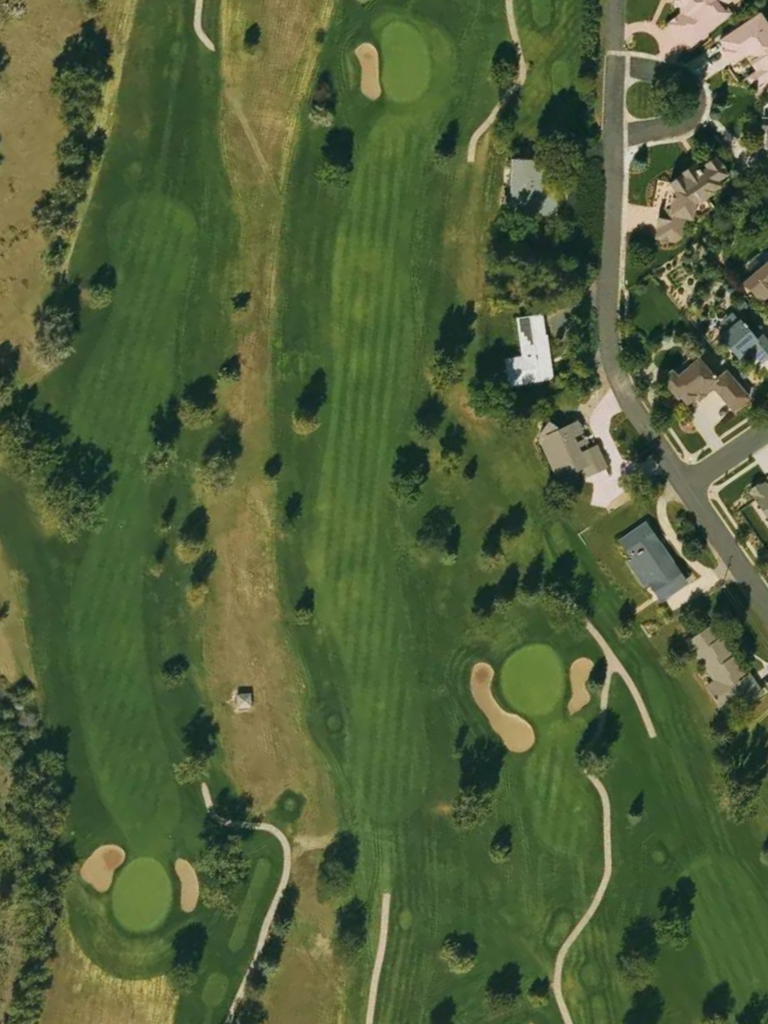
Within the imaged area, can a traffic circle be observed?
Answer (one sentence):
No, there is no traffic circle in the image.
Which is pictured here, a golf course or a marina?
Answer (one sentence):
It's a golf course.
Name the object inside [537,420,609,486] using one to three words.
house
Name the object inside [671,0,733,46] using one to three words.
house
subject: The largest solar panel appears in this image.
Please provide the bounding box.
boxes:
[520,319,535,344]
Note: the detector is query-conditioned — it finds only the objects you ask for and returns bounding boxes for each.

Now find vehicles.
[712,52,722,60]
[707,47,717,55]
